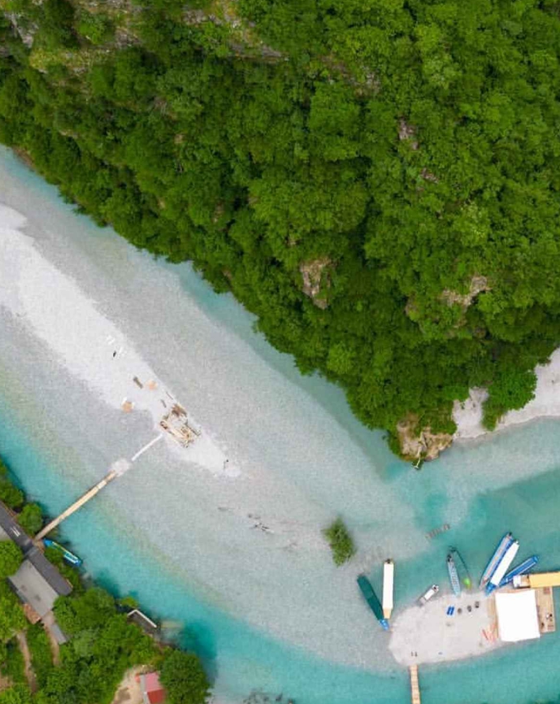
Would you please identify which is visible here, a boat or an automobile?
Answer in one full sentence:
Visible in the photo is a boat.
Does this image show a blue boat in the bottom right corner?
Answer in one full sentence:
Yes, a blue boat appears in the bottom right corner.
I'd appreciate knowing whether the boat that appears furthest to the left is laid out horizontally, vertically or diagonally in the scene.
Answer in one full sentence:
I'd say the boat that appears furthest to the left is aligned diagonally in the picture.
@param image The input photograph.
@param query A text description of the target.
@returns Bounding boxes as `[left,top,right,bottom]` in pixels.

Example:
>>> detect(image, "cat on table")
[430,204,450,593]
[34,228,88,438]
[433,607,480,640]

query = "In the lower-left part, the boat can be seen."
[55,544,82,566]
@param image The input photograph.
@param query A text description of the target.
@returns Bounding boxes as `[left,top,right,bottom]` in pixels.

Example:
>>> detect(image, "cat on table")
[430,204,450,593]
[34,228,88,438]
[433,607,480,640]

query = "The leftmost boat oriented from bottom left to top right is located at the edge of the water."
[419,584,438,604]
